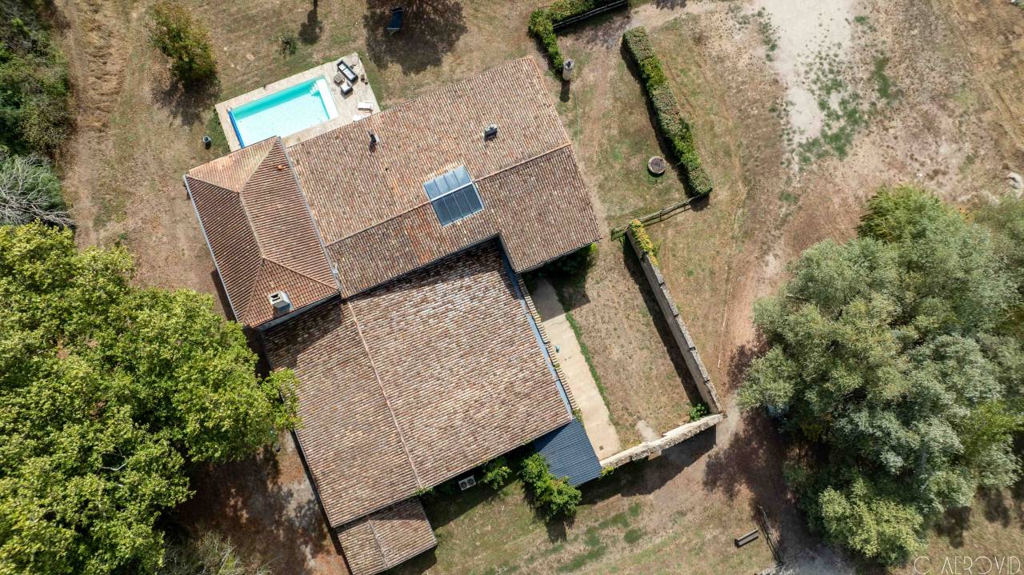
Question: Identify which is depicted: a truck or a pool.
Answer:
pool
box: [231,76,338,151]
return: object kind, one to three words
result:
swimming pool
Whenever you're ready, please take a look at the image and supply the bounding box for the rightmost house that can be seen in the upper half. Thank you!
[288,55,602,299]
